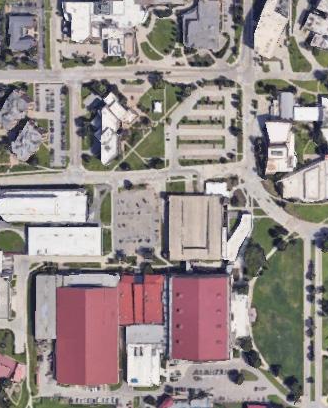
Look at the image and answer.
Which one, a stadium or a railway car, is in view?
stadium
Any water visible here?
No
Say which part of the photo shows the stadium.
center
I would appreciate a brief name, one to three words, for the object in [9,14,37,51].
building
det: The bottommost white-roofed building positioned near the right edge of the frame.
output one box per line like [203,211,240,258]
[282,157,328,201]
